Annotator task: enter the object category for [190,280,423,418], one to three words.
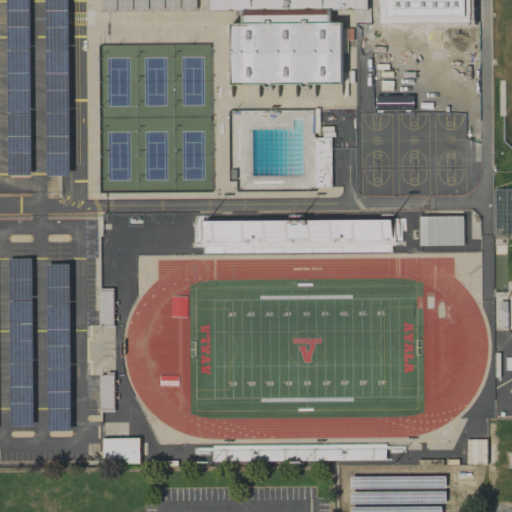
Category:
sports field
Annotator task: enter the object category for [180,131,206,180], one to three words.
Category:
tennis court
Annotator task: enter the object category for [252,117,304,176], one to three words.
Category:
swimming pool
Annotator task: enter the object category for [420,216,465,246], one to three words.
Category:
building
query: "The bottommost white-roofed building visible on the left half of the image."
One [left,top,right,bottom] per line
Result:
[103,438,140,464]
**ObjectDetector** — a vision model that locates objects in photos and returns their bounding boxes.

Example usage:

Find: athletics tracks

[128,259,488,438]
